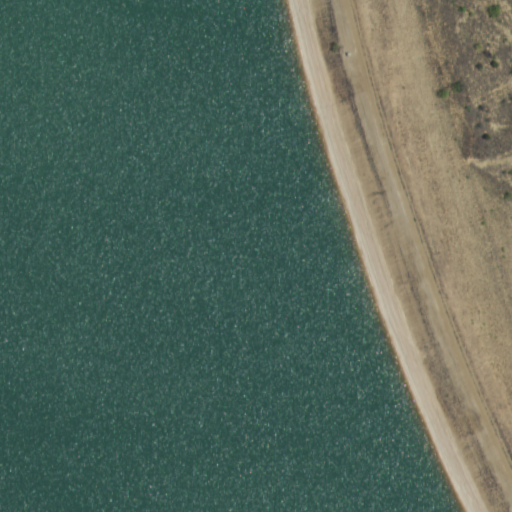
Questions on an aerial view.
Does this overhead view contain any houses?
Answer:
No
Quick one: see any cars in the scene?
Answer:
No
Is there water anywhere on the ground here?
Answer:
Yes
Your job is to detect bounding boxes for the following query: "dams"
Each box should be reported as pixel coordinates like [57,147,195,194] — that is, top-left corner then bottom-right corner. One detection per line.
[286,0,509,512]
